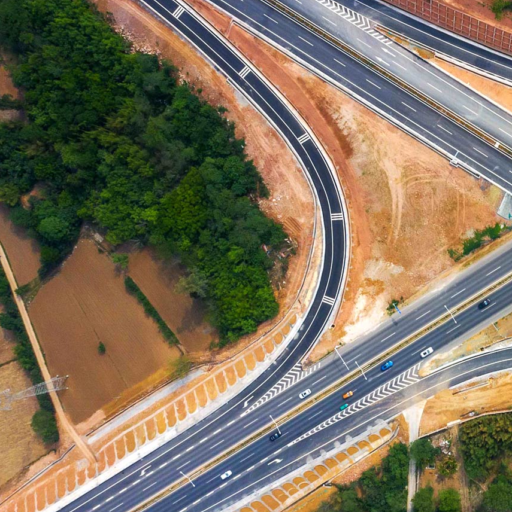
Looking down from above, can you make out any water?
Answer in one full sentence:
No, there is no water in the image.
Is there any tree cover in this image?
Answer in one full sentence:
Yes, tree cover shows up in the scene.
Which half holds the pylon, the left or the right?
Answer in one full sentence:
The pylon is on the left side of the image.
